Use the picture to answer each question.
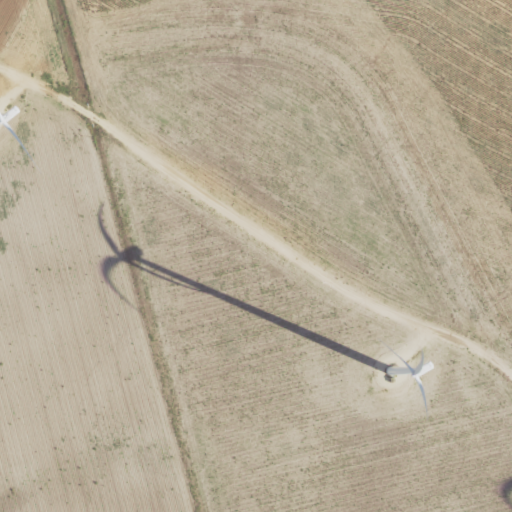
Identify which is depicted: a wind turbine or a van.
wind turbine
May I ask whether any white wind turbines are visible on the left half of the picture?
Yes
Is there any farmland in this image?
Yes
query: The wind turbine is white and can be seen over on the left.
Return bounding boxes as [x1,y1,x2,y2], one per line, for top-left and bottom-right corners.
[0,107,36,168]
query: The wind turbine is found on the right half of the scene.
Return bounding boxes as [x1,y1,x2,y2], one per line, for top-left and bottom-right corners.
[386,343,434,422]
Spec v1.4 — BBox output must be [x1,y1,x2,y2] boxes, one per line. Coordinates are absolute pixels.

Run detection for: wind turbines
[386,343,434,422]
[0,107,36,168]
